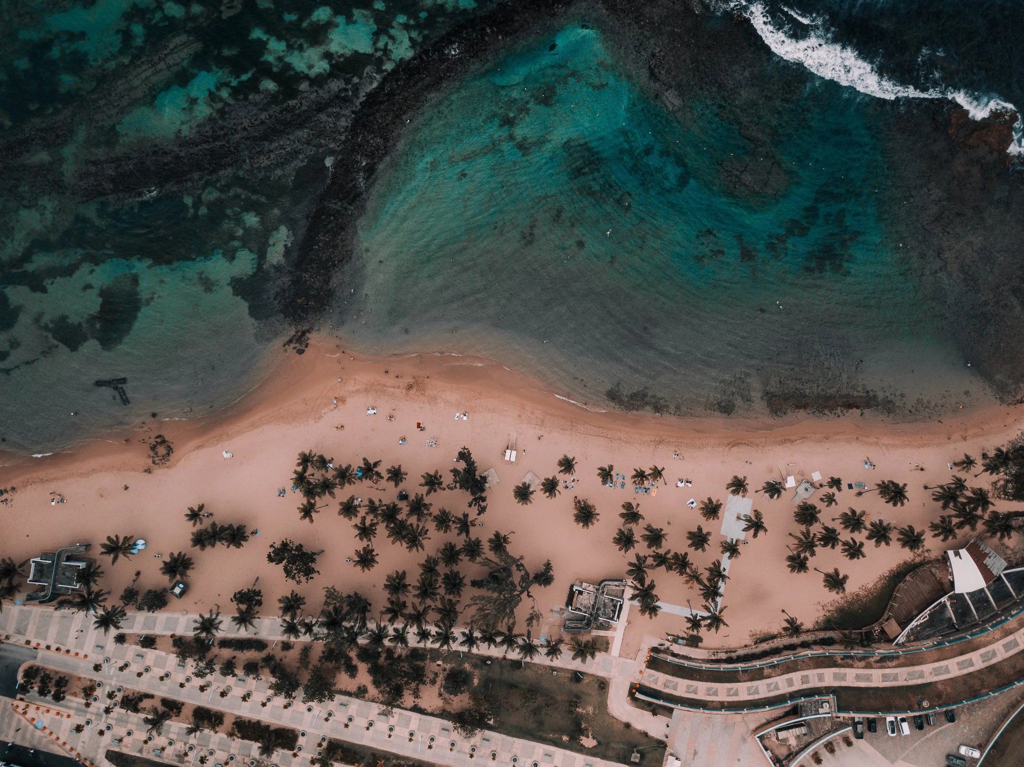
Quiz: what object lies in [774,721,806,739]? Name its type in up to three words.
shed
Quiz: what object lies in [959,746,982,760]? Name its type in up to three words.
car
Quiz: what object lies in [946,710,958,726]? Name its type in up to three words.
vehicle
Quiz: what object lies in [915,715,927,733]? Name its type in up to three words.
vehicle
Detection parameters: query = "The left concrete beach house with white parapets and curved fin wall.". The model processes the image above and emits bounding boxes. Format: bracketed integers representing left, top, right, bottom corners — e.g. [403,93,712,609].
[25,539,102,603]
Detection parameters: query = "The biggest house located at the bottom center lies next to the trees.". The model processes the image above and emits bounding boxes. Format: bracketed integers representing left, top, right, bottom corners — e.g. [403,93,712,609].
[559,574,626,632]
